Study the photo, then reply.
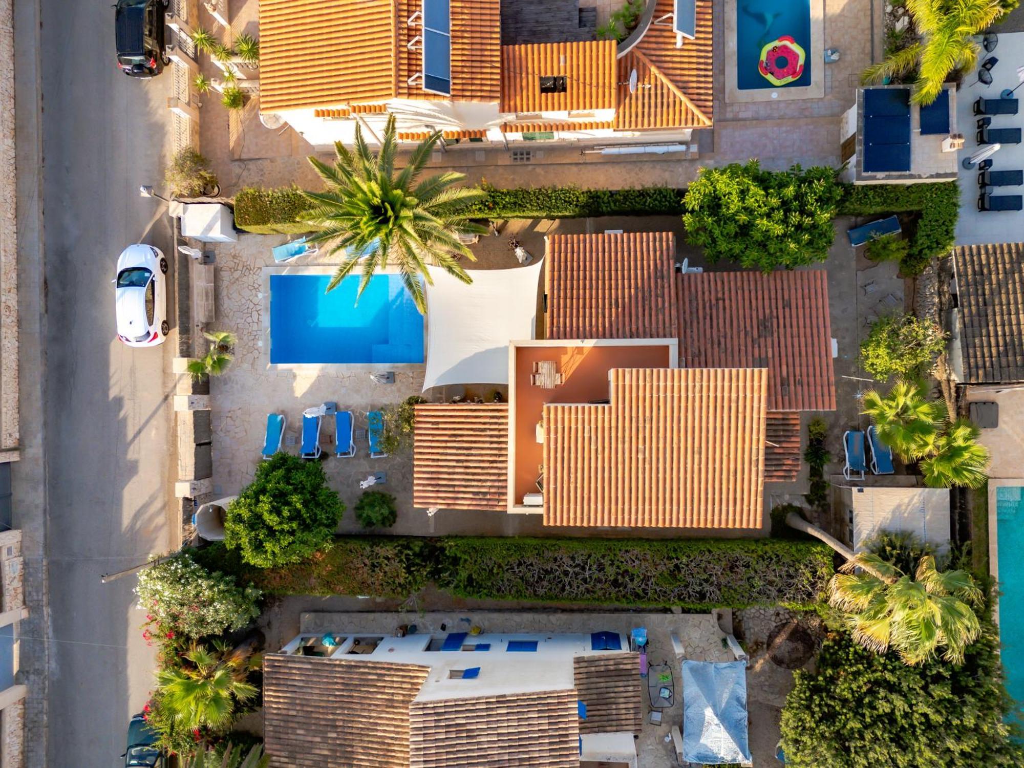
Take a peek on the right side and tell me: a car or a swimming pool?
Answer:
swimming pool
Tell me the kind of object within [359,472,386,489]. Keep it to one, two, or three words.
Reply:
umbrella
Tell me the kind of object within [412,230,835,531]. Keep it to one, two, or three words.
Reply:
house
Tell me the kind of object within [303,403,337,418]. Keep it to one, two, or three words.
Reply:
umbrella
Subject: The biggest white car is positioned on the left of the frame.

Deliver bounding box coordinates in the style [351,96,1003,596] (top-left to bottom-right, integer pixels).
[109,244,171,347]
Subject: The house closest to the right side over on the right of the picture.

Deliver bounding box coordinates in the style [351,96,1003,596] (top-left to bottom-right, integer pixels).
[925,244,1024,393]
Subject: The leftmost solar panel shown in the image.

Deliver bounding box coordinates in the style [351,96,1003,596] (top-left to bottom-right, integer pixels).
[407,0,451,98]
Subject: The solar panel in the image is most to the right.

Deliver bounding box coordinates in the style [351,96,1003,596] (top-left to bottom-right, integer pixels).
[919,89,950,135]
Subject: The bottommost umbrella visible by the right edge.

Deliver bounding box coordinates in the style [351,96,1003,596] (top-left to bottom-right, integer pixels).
[961,145,1001,170]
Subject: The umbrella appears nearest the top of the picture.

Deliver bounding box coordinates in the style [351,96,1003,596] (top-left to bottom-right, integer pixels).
[999,68,1024,98]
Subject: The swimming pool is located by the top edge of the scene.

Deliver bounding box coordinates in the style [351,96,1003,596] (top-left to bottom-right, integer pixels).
[727,0,825,100]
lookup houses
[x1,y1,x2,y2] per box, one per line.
[256,0,715,156]
[261,630,644,768]
[412,230,835,531]
[925,244,1024,393]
